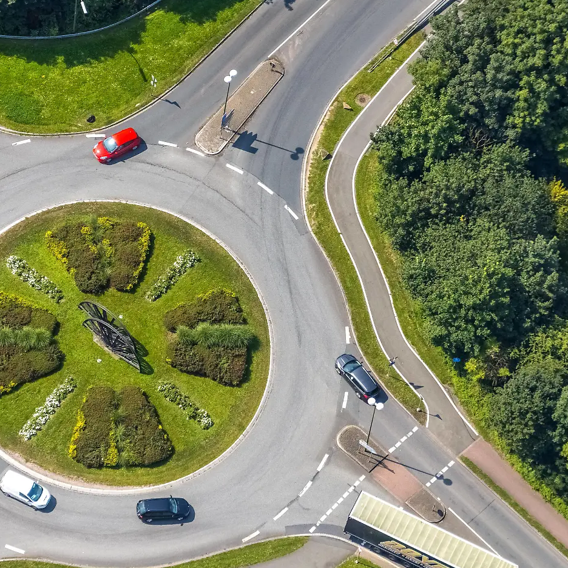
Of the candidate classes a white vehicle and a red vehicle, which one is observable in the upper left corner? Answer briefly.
red vehicle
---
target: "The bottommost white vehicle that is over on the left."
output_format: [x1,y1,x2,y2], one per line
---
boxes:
[0,467,53,512]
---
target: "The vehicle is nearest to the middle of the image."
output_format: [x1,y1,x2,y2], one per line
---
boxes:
[334,352,384,403]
